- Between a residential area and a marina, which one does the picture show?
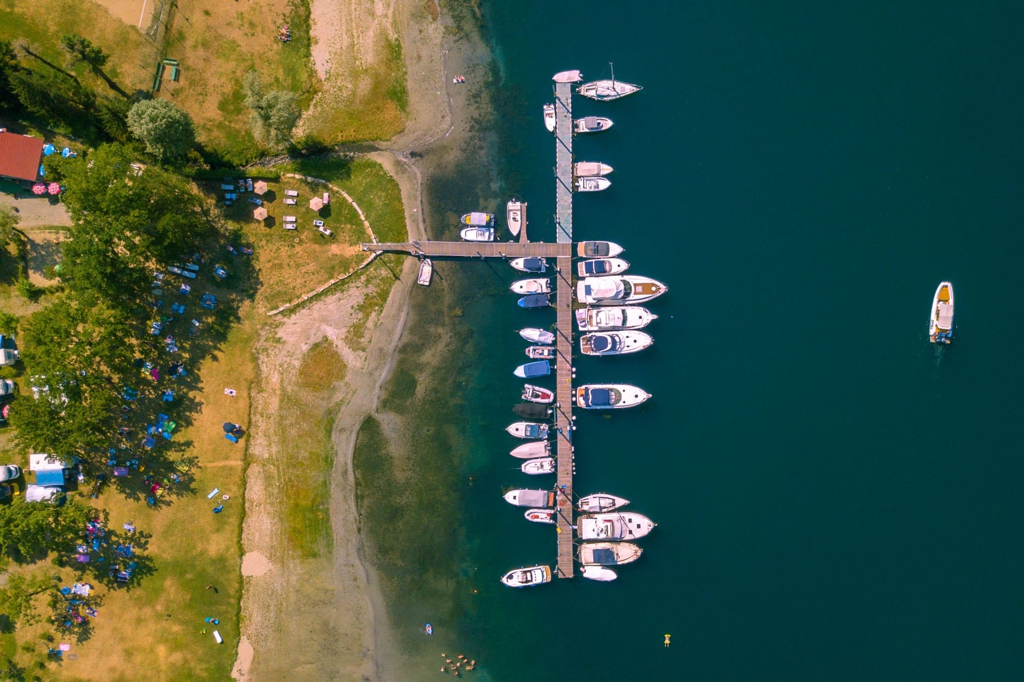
marina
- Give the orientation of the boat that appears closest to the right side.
up and down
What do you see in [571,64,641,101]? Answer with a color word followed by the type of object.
white boat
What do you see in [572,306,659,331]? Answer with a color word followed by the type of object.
white boat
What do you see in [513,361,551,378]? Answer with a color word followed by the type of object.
blue boat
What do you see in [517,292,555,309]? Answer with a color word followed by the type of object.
blue boat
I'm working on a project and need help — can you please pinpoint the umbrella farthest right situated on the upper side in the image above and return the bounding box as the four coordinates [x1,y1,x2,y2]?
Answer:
[310,197,323,211]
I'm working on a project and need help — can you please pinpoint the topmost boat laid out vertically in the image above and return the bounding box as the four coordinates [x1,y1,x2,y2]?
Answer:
[544,101,557,132]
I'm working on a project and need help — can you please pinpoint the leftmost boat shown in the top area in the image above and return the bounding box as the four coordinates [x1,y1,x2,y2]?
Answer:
[418,259,433,285]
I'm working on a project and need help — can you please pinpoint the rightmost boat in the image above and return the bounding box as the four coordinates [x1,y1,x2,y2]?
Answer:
[929,282,955,343]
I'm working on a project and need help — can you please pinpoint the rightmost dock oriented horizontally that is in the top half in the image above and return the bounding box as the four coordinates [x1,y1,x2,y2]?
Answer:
[414,241,573,257]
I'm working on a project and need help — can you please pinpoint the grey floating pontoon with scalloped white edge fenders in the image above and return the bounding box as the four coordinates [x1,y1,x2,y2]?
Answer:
[556,82,572,241]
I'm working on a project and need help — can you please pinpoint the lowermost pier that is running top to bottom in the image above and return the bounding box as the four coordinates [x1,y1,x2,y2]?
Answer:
[558,257,573,577]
